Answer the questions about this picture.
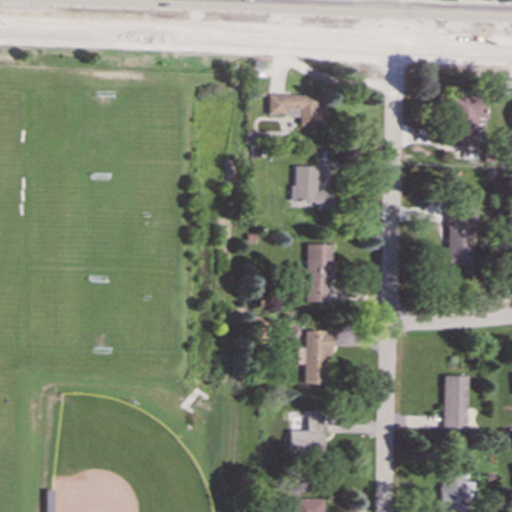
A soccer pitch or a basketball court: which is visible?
soccer pitch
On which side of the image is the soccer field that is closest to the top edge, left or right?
left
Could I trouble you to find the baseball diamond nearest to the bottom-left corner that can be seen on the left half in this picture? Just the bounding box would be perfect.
[52,392,216,512]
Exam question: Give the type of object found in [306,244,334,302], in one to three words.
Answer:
house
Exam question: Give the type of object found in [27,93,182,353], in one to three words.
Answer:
soccer field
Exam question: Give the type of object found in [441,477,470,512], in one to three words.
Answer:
house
